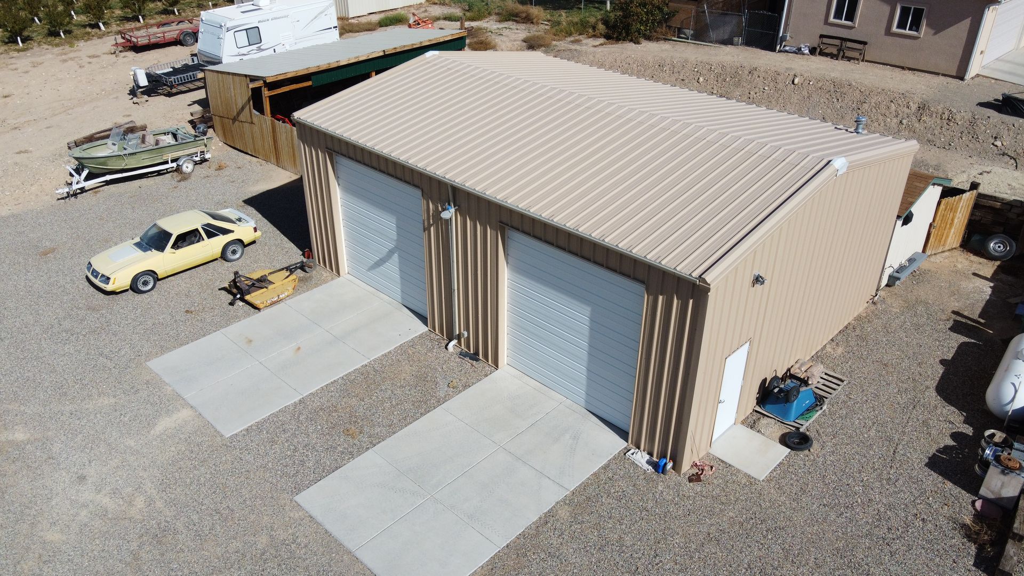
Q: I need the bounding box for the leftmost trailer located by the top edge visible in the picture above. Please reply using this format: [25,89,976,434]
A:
[104,16,199,55]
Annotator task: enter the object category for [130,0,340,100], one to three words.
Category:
trailer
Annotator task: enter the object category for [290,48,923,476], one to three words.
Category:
building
